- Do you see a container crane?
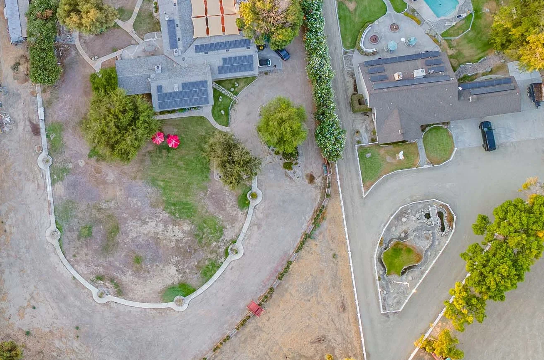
No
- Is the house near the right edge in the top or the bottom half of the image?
top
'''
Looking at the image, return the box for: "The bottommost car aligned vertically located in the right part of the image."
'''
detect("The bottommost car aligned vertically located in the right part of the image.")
[479,121,497,152]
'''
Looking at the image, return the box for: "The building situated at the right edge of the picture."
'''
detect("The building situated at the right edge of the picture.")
[355,52,522,143]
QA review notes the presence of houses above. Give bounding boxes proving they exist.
[355,52,522,143]
[116,0,258,112]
